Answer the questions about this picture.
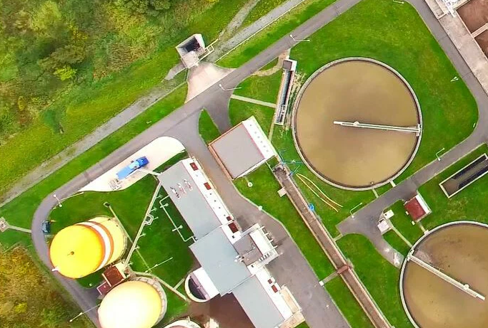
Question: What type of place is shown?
industrial area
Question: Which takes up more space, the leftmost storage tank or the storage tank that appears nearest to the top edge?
the storage tank that appears nearest to the top edge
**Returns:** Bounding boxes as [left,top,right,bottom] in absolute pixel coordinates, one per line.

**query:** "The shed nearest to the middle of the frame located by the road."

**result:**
[210,121,276,178]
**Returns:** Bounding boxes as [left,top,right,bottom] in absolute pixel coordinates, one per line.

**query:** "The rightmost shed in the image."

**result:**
[404,195,427,221]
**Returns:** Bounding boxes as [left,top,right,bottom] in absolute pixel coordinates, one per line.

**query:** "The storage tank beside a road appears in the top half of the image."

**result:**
[290,60,422,190]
